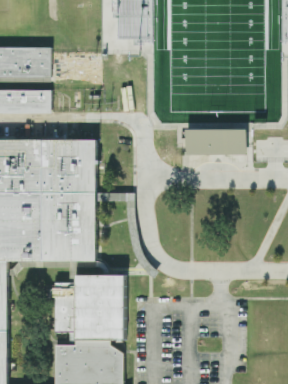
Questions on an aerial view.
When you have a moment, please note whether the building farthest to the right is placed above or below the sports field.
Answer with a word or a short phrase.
below it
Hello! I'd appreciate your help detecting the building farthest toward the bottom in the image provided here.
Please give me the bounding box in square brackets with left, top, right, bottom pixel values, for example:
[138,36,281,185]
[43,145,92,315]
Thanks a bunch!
[57,340,125,384]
